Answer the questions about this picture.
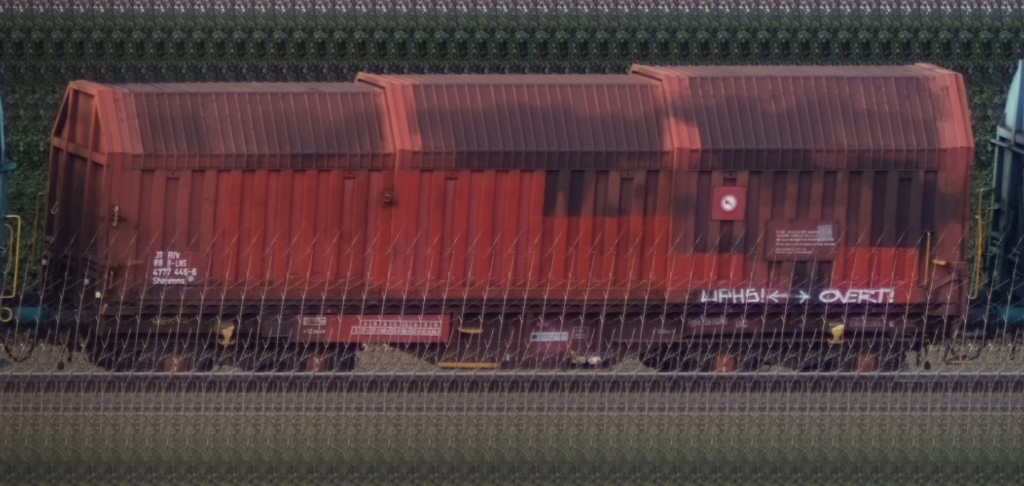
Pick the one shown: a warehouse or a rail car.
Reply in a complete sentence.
There is a rail car in the scene.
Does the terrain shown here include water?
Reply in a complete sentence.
No, the scene doesn't show any water.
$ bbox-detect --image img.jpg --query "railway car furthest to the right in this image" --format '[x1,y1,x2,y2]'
[965,57,1024,362]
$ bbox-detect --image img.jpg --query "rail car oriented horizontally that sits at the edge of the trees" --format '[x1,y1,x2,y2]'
[0,61,1003,386]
